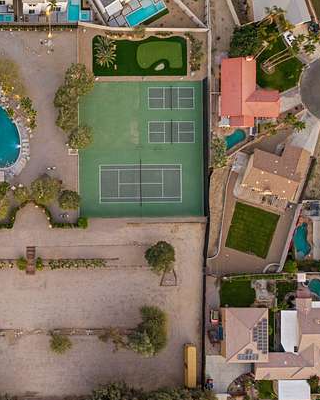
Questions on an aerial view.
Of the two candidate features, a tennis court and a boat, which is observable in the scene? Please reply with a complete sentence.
The one in the frame is a tennis court.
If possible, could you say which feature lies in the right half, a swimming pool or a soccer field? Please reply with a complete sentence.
The feature located in the right half is a swimming pool.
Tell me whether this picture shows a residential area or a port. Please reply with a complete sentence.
It's a residential area.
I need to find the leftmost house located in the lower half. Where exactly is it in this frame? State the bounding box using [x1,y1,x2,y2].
[222,307,269,363]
